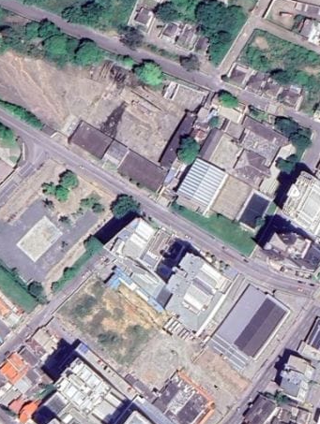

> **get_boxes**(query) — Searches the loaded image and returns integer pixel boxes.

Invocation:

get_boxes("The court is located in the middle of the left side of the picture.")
[16,216,63,263]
